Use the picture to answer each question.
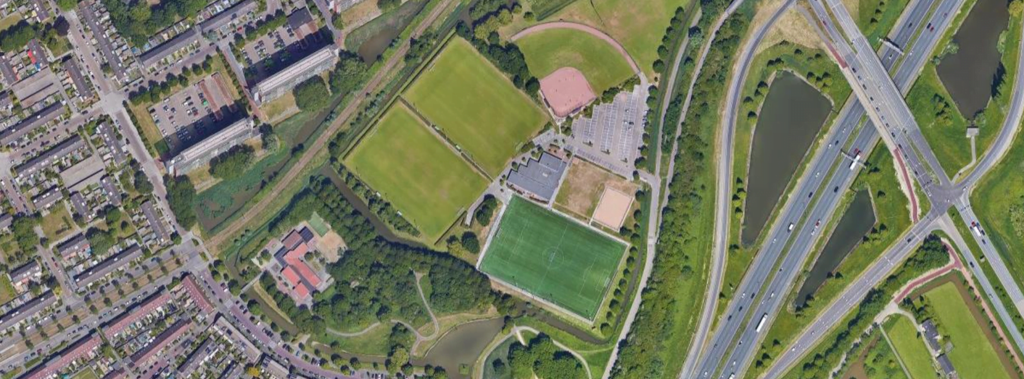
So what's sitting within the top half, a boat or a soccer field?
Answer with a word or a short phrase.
soccer field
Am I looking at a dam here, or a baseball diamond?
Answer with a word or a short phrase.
baseball diamond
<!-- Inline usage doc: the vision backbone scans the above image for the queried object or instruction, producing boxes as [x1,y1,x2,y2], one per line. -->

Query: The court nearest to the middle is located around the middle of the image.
[591,187,633,232]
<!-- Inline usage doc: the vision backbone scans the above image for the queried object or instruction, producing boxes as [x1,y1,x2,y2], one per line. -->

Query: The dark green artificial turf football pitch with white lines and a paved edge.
[477,191,634,325]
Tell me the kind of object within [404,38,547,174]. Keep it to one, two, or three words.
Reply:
soccer field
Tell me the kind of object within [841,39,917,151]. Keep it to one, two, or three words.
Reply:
bridge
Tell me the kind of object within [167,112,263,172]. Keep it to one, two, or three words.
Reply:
building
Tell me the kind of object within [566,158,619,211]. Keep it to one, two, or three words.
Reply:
sports field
